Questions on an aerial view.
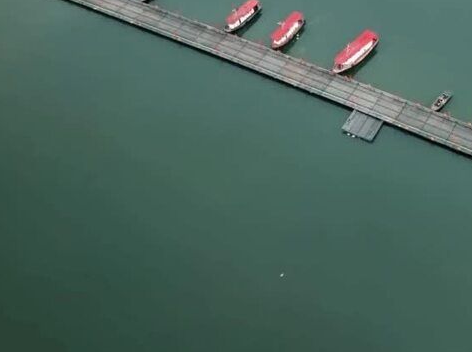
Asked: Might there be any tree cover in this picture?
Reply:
No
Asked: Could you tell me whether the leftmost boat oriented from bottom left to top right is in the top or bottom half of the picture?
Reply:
top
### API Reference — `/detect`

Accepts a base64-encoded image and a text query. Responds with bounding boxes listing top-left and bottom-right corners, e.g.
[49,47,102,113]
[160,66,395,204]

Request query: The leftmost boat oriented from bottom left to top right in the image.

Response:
[226,0,265,36]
